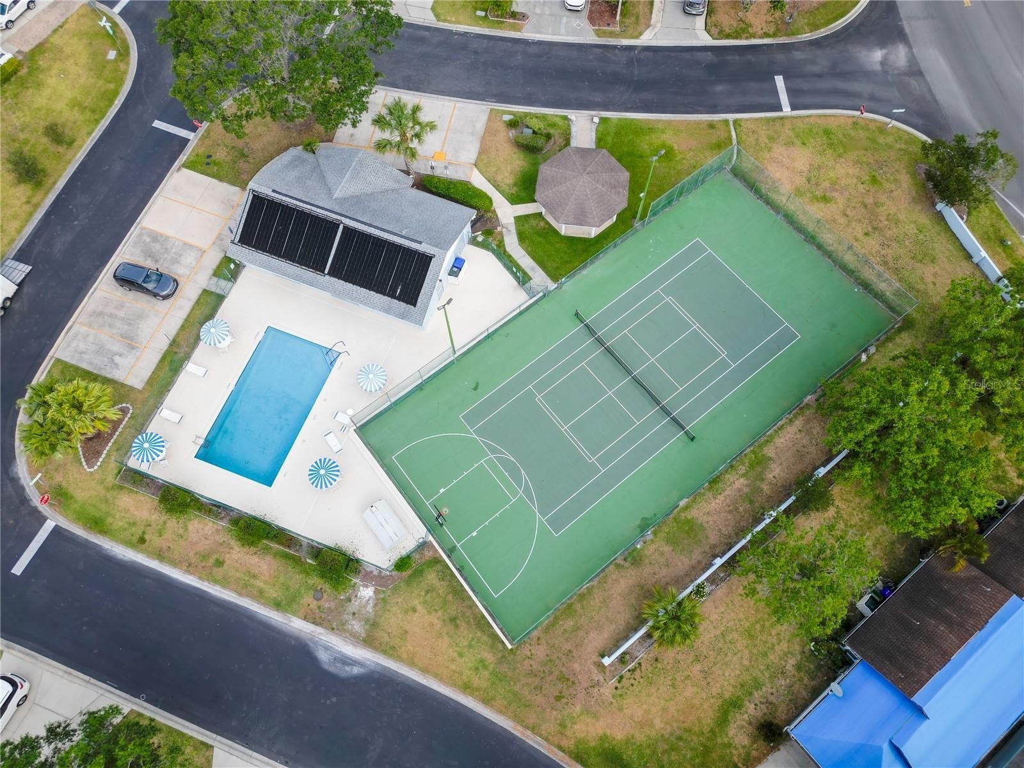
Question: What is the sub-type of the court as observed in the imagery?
tennis court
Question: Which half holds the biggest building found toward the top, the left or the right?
left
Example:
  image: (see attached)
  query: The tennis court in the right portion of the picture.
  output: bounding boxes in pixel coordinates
[359,166,901,647]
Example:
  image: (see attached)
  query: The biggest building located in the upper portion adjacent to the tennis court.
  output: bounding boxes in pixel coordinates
[225,147,479,331]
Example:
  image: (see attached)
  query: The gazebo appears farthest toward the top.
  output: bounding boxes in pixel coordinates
[535,148,629,238]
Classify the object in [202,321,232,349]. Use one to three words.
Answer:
umbrella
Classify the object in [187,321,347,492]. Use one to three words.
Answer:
swimming pool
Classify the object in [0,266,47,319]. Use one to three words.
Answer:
trailer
